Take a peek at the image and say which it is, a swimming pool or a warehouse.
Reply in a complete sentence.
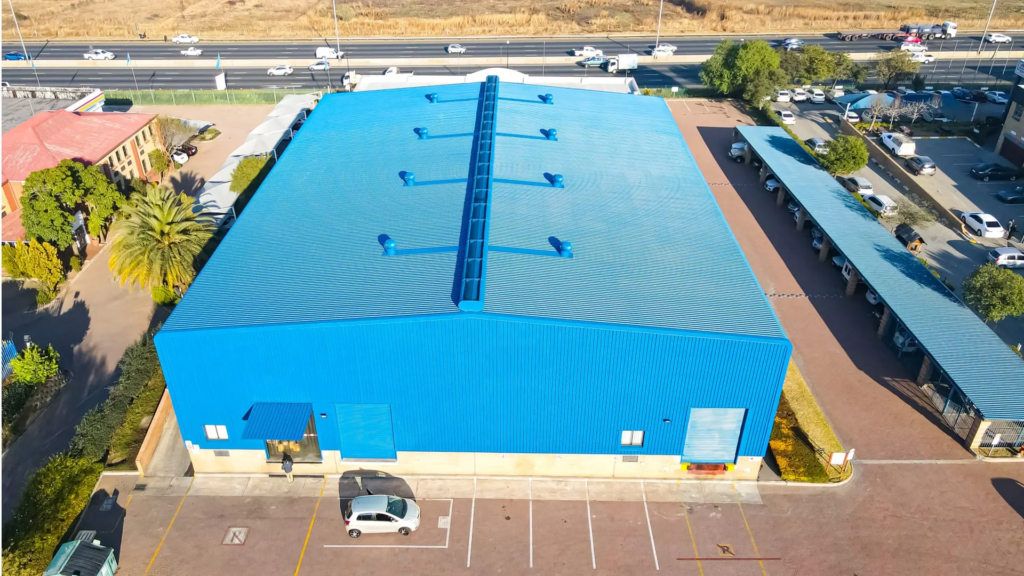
There is a warehouse in the scene.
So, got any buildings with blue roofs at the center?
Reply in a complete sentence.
Yes, a building with a blue roof is visible at the center.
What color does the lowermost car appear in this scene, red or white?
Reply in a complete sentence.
The color of the lowermost car is white.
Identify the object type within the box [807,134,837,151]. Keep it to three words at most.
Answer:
car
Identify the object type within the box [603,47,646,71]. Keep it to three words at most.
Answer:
truck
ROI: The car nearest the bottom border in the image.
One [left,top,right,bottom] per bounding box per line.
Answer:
[340,490,420,534]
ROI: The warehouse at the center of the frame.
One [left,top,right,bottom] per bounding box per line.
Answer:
[154,73,792,478]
